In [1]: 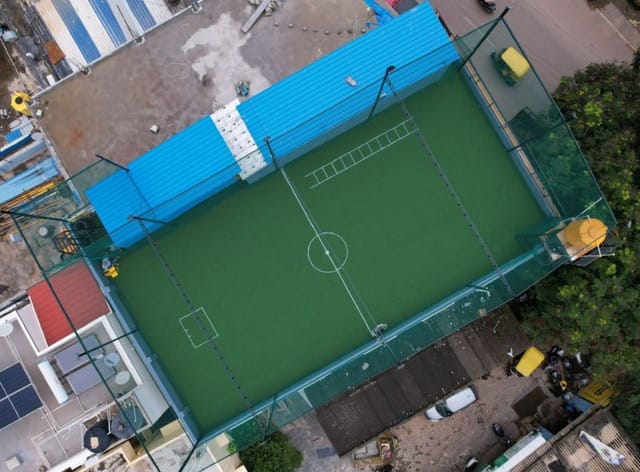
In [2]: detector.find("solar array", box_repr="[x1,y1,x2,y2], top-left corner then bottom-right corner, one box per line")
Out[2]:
[0,343,47,428]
